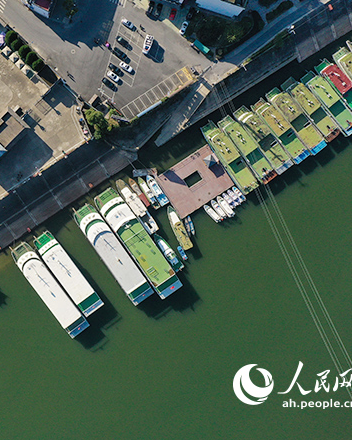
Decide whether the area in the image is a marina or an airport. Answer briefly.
marina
